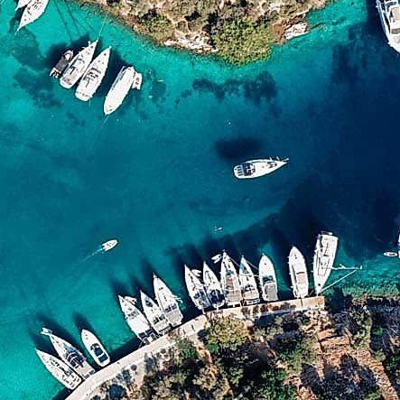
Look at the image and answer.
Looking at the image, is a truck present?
No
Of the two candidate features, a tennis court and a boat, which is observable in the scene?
boat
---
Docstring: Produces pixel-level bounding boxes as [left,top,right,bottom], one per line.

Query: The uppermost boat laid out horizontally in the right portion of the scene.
[233,159,288,178]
